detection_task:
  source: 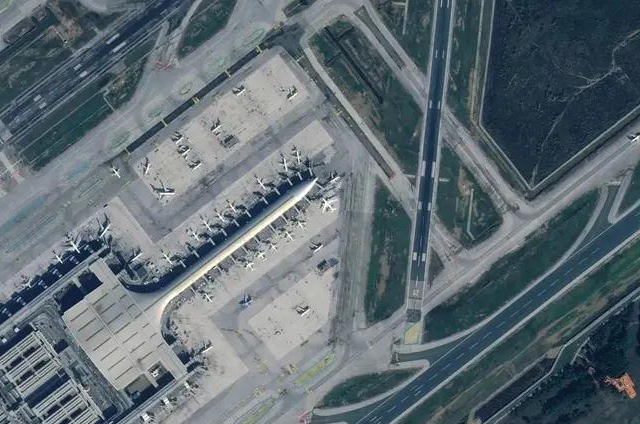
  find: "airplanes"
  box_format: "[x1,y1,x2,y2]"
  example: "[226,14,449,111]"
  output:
[181,146,193,155]
[313,243,325,252]
[110,166,120,177]
[23,275,33,287]
[212,123,224,132]
[227,201,237,213]
[323,196,339,213]
[301,307,313,316]
[270,242,279,253]
[174,134,187,144]
[292,149,304,162]
[256,178,266,189]
[101,223,114,237]
[288,90,300,100]
[236,86,248,96]
[159,185,176,201]
[245,261,256,272]
[214,210,224,221]
[202,344,215,353]
[286,230,296,242]
[143,162,154,175]
[64,234,80,252]
[280,158,291,170]
[190,229,200,241]
[52,252,63,263]
[329,174,341,183]
[131,251,143,261]
[192,162,204,170]
[241,297,254,305]
[202,219,212,230]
